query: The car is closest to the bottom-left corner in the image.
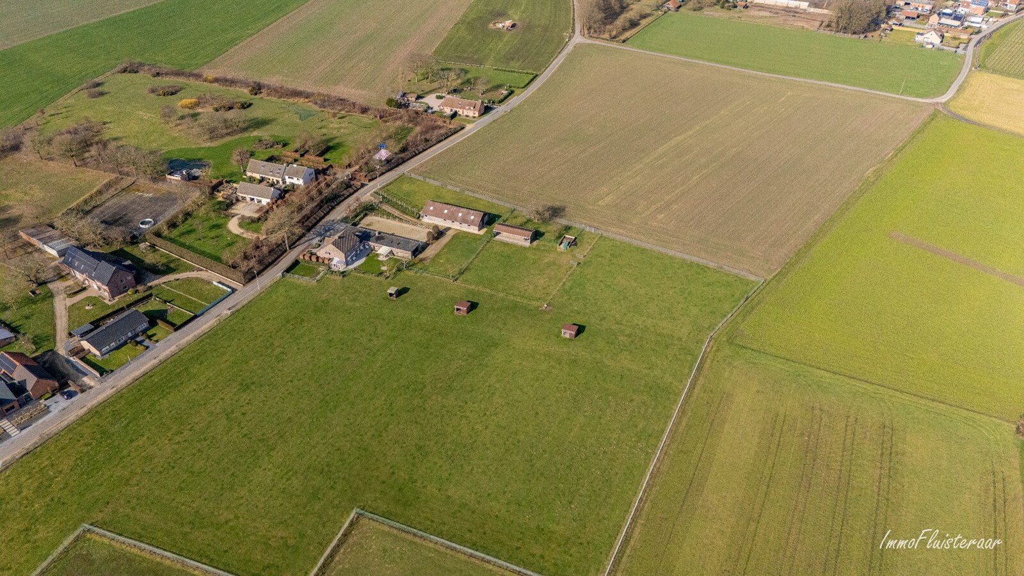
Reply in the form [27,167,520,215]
[56,386,73,399]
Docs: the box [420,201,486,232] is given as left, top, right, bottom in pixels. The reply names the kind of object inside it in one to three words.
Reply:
building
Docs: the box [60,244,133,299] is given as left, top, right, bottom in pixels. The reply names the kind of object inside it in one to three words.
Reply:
house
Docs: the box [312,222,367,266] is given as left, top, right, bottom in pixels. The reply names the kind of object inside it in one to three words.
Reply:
house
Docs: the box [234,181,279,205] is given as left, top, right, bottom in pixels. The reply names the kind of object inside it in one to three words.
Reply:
building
